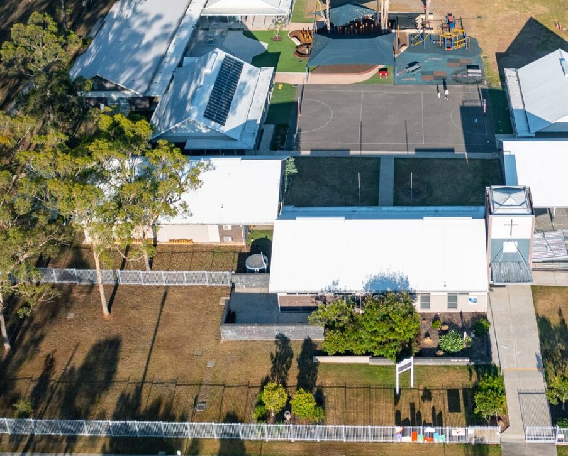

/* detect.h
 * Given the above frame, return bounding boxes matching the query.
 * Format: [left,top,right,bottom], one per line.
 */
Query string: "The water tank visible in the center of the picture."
[243,247,270,276]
